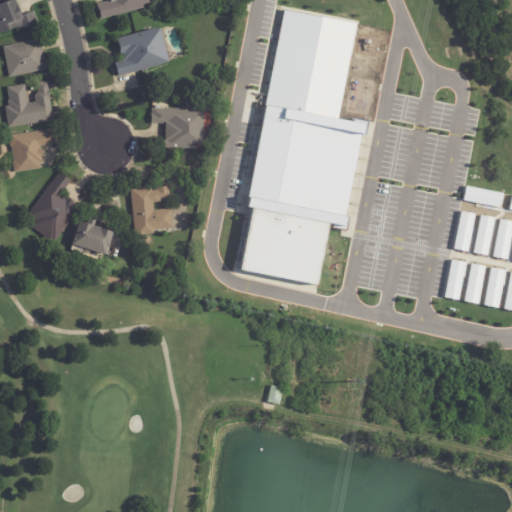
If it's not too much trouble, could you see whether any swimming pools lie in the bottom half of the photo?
No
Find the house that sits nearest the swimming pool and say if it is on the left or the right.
left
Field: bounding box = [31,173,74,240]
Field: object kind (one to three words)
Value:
house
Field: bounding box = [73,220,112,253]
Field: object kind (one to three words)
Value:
house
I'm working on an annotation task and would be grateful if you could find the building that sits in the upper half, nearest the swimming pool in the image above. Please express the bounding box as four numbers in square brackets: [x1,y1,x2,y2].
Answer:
[116,28,170,76]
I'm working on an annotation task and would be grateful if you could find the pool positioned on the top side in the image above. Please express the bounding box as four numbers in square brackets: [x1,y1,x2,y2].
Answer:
[161,27,187,60]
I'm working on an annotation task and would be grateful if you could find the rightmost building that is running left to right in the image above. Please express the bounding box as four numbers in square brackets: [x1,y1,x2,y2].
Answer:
[464,186,504,208]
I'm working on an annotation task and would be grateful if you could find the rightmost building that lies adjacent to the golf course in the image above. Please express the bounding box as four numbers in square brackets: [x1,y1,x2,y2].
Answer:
[242,10,369,284]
